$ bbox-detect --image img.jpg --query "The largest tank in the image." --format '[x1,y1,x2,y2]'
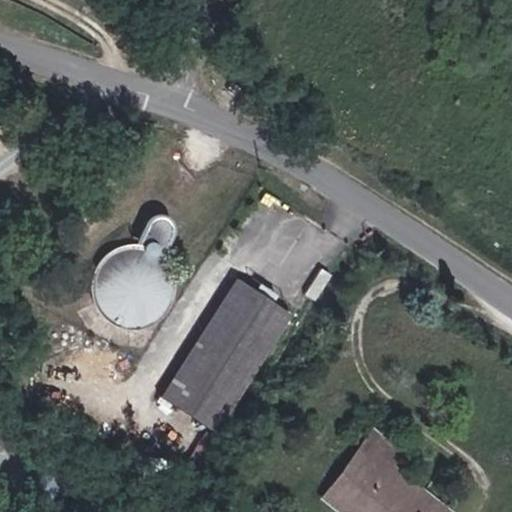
[92,214,177,338]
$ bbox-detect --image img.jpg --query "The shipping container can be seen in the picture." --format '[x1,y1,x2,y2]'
[305,268,332,300]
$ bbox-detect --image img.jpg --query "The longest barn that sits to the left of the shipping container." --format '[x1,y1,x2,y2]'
[162,270,290,430]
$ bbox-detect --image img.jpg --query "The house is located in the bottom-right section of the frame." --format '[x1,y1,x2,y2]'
[320,430,456,512]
